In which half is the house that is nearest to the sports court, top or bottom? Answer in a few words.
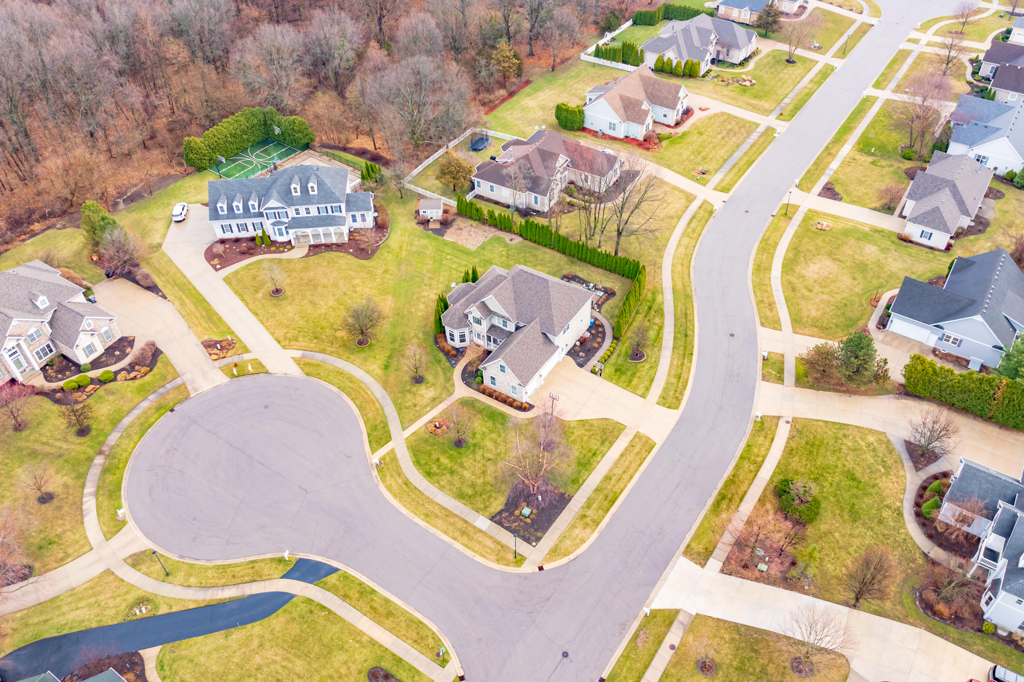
top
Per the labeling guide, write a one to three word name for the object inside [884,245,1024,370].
house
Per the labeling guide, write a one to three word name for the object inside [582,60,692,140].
house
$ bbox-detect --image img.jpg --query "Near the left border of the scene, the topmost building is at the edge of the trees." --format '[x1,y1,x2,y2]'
[0,257,123,380]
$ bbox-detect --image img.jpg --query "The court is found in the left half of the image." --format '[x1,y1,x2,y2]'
[209,140,302,180]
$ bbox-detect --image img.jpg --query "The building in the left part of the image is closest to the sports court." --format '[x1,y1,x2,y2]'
[209,165,373,250]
